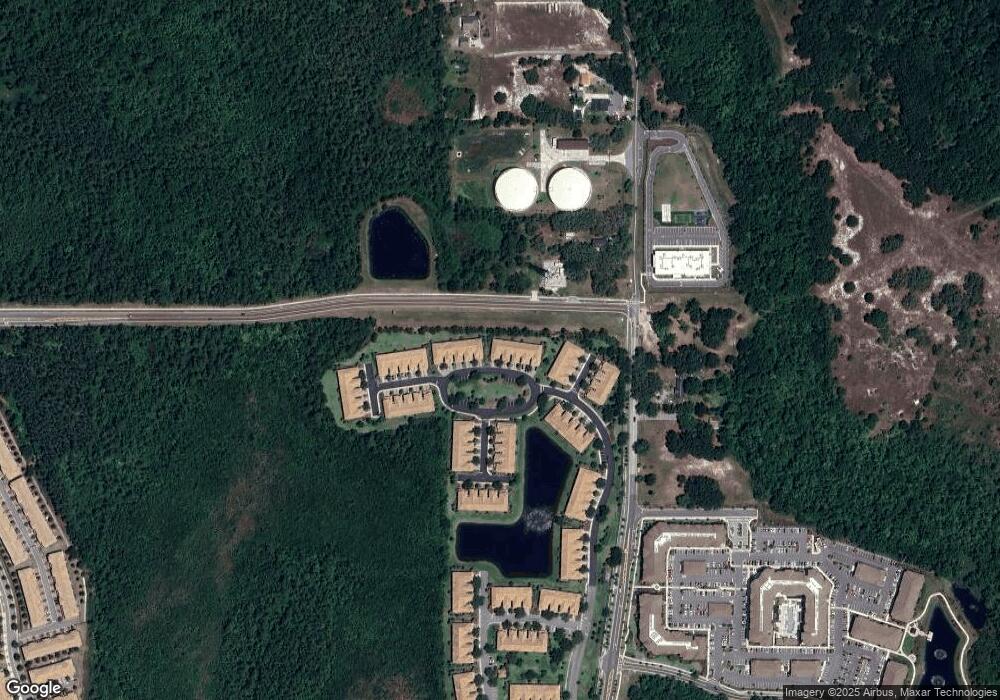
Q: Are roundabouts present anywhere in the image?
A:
Yes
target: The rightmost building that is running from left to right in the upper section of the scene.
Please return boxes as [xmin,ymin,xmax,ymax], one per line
[655,251,710,277]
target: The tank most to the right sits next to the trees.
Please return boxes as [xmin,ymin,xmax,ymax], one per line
[547,166,593,212]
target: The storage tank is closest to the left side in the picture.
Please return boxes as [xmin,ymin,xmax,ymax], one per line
[494,167,539,212]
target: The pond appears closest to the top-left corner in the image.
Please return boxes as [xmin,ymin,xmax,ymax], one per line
[368,206,430,279]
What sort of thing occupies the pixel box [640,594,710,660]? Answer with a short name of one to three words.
building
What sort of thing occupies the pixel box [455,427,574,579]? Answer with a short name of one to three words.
pond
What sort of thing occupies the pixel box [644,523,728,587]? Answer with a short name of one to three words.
building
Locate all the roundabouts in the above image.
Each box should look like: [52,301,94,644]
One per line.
[439,368,537,419]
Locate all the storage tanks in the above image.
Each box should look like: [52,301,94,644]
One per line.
[494,167,539,212]
[547,166,593,212]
